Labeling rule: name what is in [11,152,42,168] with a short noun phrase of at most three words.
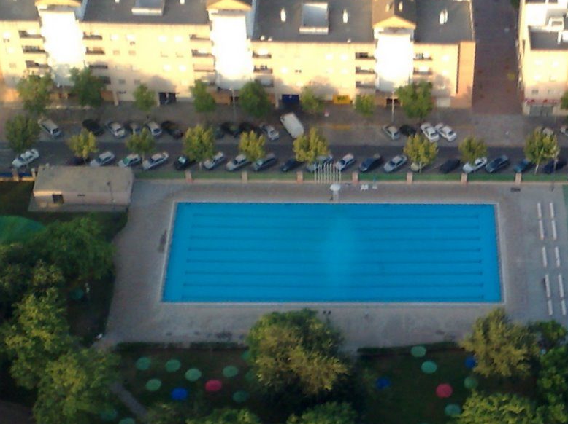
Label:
car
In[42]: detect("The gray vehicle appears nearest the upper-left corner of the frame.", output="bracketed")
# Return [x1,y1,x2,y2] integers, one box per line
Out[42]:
[39,119,63,139]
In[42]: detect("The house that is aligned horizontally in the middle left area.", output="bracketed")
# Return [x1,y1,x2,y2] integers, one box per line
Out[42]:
[29,164,135,211]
